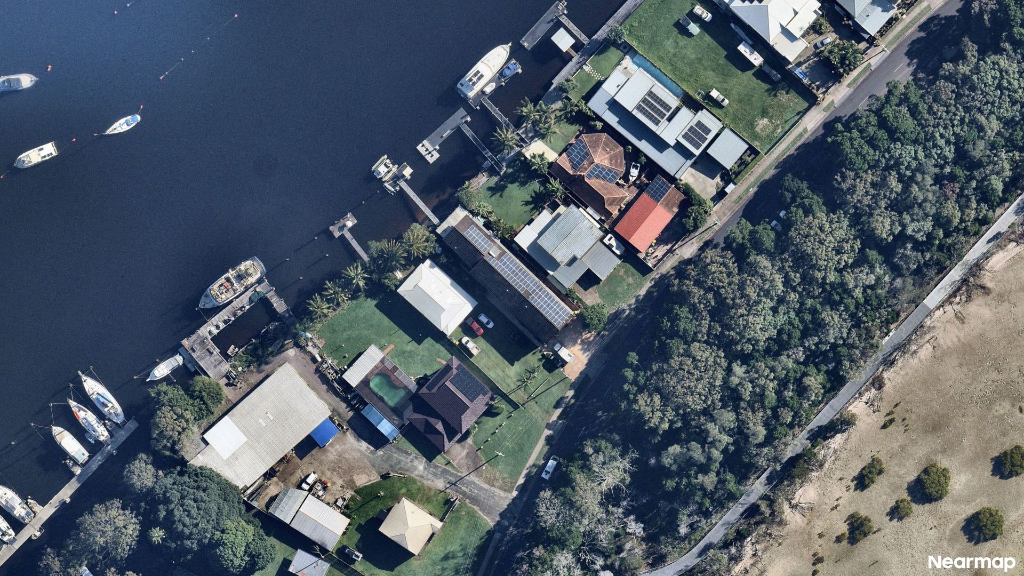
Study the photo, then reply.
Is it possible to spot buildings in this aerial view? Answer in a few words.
Yes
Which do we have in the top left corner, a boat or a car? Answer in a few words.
boat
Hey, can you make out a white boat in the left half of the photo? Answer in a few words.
Yes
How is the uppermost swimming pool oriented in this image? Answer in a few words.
on a diagonal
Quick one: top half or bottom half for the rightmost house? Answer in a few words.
top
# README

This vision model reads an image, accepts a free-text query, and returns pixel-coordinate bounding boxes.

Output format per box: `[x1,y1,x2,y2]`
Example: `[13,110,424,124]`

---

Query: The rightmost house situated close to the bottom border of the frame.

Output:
[378,497,443,556]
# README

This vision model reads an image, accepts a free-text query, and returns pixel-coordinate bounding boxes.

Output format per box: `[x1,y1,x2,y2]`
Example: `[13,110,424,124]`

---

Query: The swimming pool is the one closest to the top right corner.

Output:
[630,54,684,98]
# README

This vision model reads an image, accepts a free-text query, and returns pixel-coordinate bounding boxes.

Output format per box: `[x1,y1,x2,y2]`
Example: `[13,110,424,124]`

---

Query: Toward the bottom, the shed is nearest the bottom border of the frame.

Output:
[289,548,331,576]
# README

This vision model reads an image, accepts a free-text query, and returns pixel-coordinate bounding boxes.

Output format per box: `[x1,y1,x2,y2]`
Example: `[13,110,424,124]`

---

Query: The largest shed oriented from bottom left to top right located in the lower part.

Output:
[189,362,331,489]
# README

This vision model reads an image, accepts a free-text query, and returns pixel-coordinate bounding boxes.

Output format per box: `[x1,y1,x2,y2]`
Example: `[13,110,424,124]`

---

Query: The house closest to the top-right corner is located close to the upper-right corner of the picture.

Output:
[836,0,897,38]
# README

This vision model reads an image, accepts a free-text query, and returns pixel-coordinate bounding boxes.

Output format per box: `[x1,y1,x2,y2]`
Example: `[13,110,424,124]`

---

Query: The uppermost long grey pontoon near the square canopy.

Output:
[520,1,567,50]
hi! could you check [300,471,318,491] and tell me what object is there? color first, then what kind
white vehicle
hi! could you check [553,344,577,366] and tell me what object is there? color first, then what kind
white camper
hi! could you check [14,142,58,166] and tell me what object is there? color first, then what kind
white boat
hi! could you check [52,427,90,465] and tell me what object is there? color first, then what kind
white boat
